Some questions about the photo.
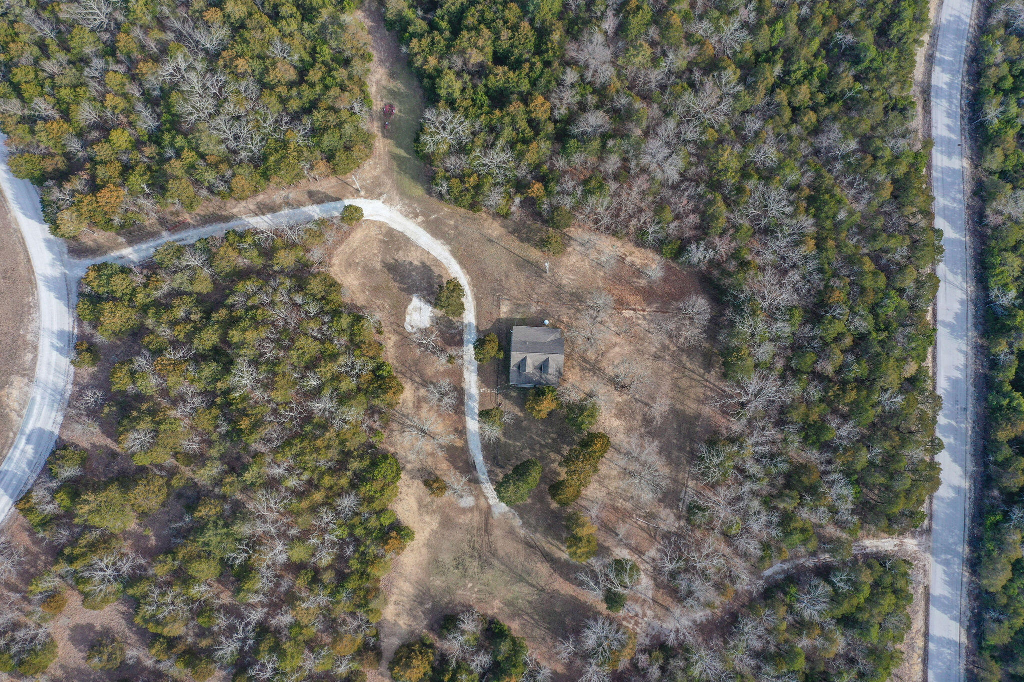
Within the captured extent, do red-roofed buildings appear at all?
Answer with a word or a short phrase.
No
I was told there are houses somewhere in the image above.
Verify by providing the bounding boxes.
[510,327,564,388]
